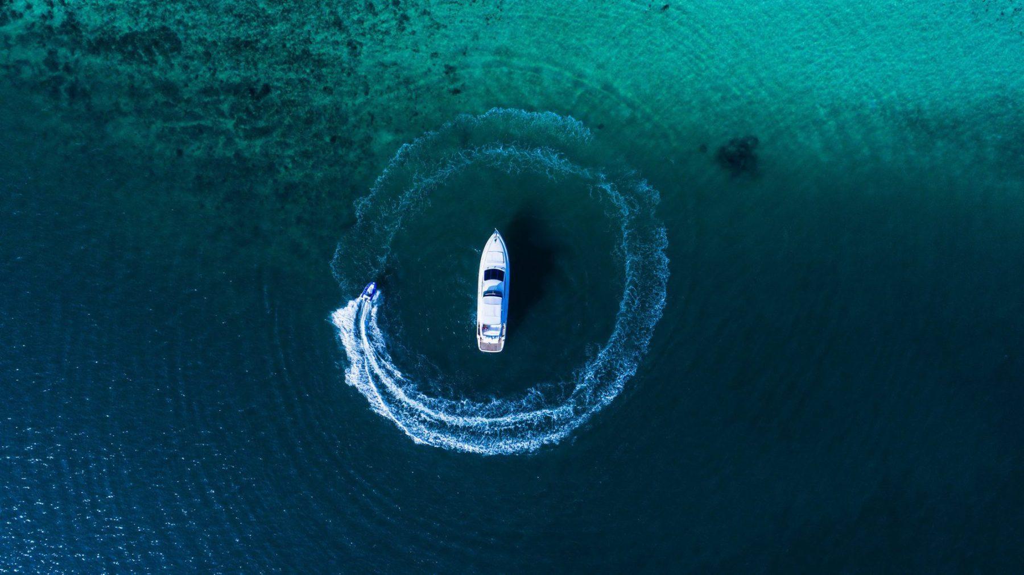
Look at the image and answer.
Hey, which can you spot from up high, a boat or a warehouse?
boat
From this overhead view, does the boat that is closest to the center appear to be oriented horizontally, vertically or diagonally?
vertically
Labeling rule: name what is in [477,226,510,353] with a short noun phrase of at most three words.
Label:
boat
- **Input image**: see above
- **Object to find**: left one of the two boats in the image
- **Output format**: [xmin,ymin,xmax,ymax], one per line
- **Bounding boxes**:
[361,282,375,303]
